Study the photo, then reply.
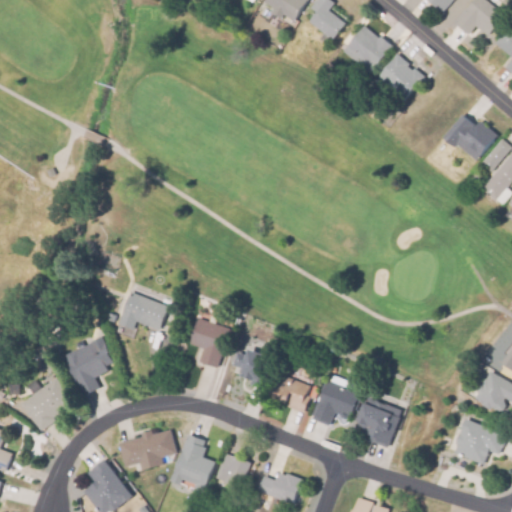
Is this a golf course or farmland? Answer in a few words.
golf course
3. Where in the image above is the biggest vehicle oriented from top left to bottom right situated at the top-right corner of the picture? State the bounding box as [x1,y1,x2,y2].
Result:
[422,42,436,56]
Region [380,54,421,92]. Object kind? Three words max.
house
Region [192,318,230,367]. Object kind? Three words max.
house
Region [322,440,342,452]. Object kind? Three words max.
vehicle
